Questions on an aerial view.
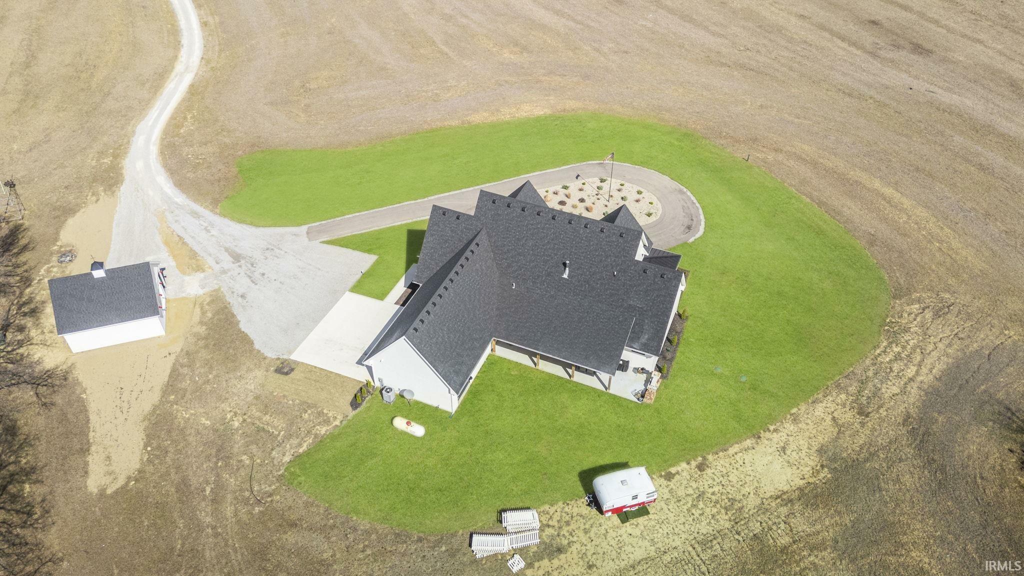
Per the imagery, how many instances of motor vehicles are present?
1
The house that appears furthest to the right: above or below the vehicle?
above it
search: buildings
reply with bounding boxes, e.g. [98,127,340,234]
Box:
[364,180,690,416]
[48,252,167,353]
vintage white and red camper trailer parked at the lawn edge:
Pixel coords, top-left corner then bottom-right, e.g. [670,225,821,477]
[589,467,659,517]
